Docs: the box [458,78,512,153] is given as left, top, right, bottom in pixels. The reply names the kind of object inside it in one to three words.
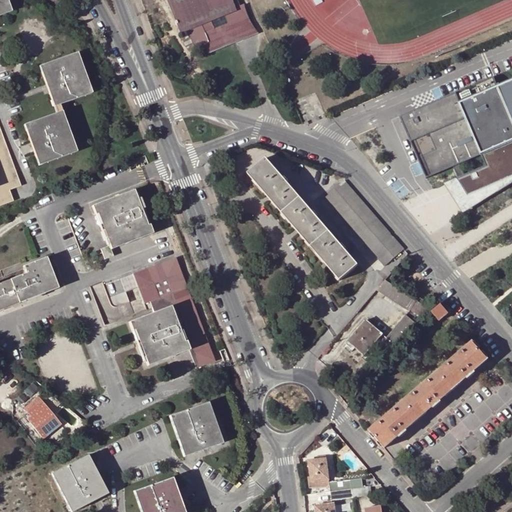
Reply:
building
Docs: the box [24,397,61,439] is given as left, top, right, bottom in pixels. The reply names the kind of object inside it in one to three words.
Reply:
house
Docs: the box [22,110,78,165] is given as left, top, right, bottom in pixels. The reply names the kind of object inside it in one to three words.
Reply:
building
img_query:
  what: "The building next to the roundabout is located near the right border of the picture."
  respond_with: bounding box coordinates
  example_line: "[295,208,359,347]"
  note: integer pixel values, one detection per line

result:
[367,339,486,446]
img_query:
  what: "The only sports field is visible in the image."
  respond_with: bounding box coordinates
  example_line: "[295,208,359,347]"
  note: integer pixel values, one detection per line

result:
[362,0,496,45]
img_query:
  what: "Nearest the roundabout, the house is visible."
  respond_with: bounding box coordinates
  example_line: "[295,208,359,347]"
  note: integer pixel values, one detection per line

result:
[306,456,329,488]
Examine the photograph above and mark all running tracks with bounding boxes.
[294,0,512,64]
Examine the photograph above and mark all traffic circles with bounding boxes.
[251,367,330,449]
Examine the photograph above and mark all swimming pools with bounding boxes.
[338,448,366,473]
